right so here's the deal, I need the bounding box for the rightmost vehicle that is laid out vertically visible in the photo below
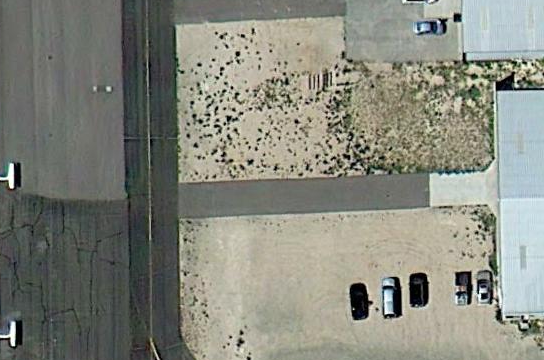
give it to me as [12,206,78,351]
[476,271,492,305]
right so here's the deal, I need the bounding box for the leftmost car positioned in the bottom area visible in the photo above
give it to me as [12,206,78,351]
[349,284,366,319]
